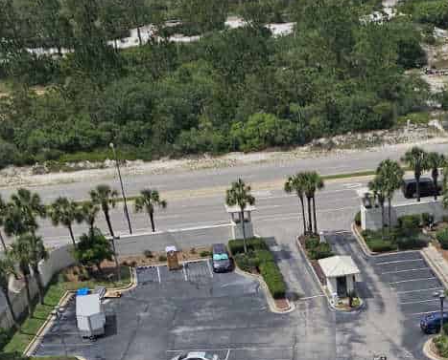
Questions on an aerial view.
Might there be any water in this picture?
No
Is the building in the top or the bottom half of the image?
bottom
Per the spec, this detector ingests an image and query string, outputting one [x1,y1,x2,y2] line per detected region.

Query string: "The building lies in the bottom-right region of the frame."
[317,256,362,301]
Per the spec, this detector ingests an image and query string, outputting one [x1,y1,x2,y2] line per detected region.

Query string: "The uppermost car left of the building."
[210,247,232,270]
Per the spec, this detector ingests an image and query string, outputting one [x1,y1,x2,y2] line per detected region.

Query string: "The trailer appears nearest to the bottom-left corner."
[77,293,110,341]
